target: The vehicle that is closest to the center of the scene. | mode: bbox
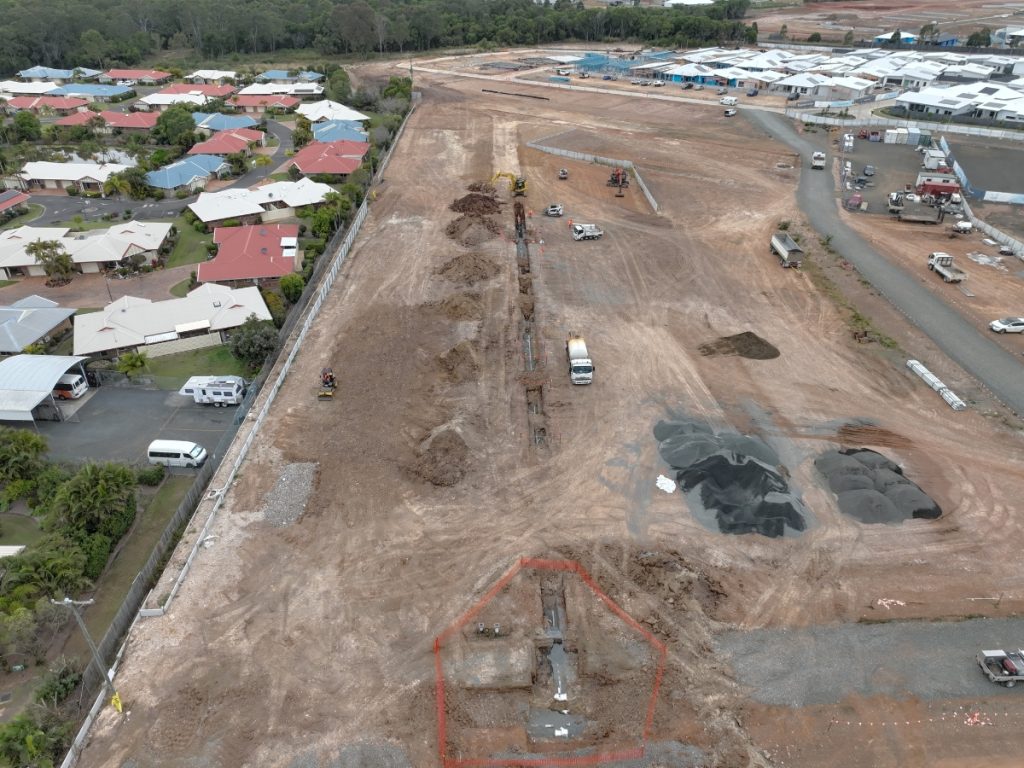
[567,329,598,385]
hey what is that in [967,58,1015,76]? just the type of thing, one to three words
house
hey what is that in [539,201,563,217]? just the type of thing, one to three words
work vehicle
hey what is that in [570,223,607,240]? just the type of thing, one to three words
vehicle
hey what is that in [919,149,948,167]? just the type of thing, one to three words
shed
